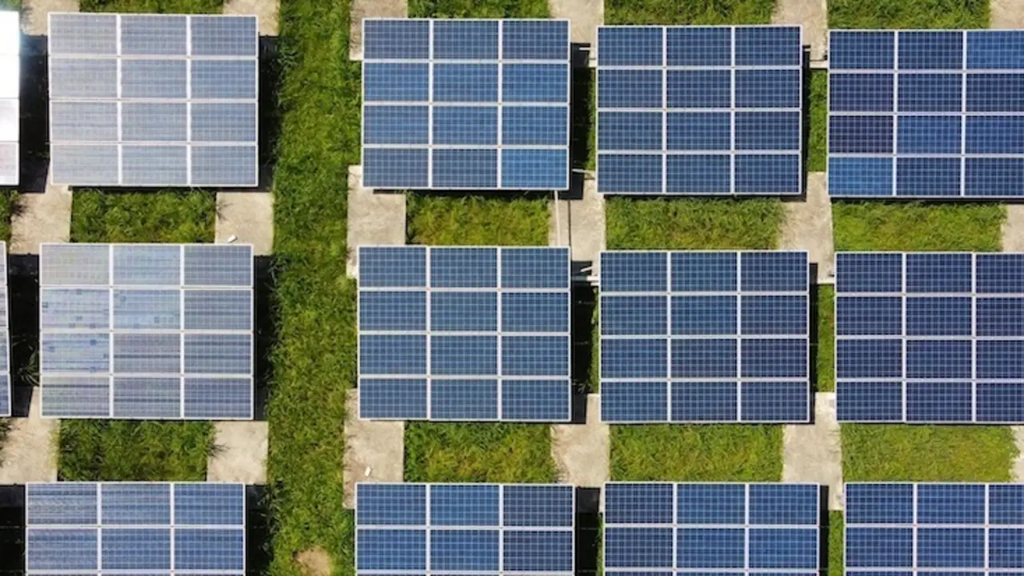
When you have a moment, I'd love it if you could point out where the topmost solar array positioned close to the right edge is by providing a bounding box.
[821,30,1024,197]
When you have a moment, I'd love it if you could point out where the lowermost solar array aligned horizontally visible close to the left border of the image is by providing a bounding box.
[26,482,249,576]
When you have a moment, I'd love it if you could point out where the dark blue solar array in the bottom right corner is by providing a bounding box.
[835,483,1024,576]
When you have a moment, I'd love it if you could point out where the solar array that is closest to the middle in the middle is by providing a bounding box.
[359,247,570,420]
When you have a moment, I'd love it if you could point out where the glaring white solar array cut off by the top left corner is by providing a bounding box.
[0,11,32,182]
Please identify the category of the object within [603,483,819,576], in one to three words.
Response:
solar array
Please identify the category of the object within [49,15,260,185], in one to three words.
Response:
solar array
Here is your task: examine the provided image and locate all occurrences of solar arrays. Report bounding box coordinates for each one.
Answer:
[603,483,819,576]
[835,483,1024,576]
[0,11,32,182]
[359,247,570,420]
[26,482,249,576]
[597,25,801,194]
[49,15,260,185]
[828,252,1024,423]
[363,19,569,189]
[0,242,18,416]
[357,483,574,576]
[599,251,809,423]
[821,30,1024,197]
[40,244,256,418]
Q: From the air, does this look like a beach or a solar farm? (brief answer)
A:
solar farm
